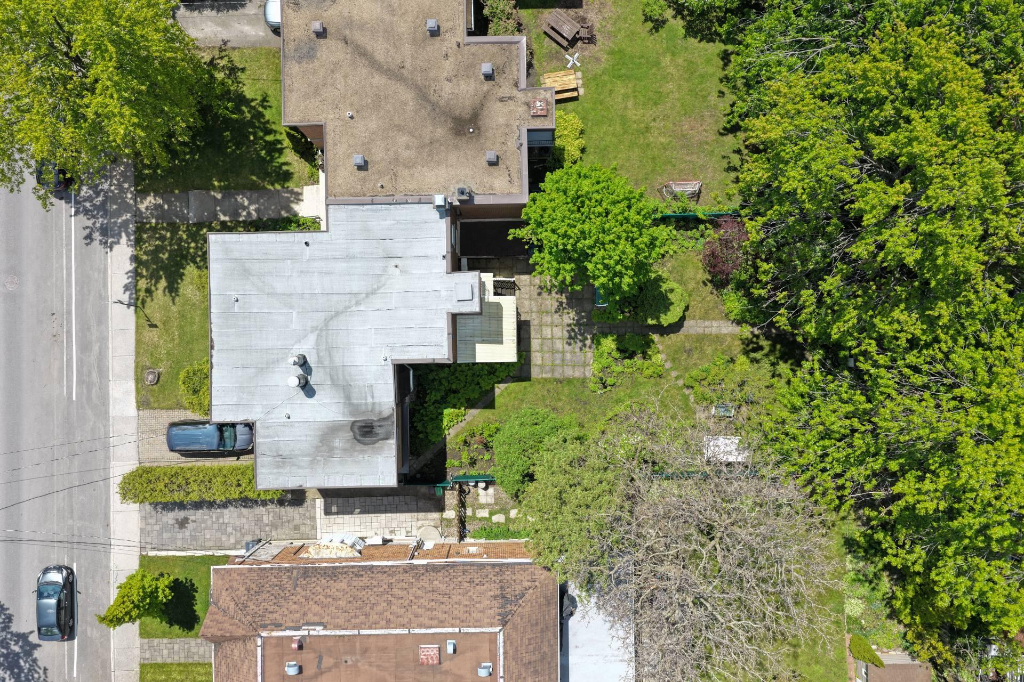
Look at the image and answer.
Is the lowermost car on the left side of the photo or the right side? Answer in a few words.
left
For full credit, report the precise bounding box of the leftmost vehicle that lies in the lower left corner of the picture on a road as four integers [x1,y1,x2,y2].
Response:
[32,562,78,642]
